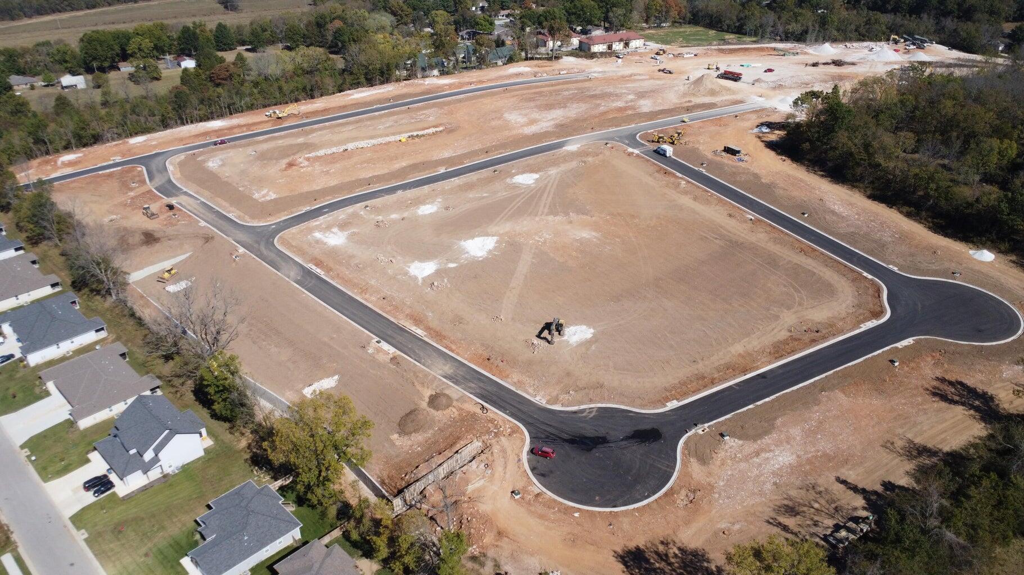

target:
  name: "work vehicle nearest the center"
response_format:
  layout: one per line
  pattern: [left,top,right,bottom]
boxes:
[550,318,572,348]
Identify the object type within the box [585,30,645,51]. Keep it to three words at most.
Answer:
building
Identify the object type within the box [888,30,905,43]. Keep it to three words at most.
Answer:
vehicle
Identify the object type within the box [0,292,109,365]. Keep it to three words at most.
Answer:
house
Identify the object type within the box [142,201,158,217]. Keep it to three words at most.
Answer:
work vehicle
